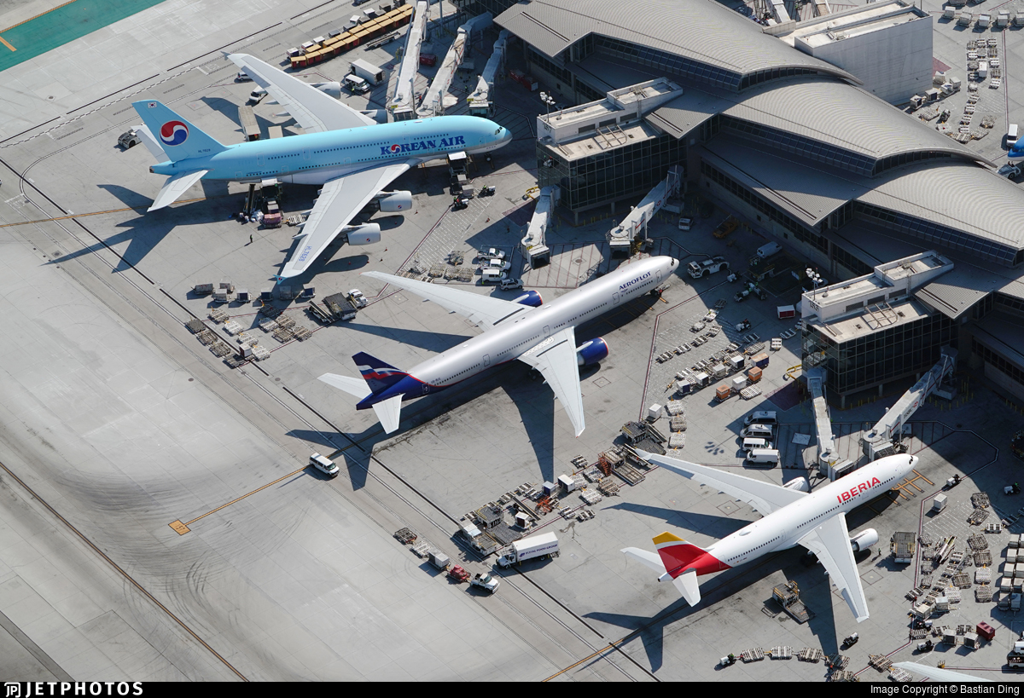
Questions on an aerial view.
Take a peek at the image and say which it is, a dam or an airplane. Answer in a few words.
airplane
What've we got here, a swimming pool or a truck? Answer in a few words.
truck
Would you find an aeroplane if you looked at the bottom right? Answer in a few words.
Yes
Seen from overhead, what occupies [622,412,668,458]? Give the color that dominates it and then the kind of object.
gray work vehicle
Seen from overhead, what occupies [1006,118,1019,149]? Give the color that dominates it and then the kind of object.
white vehicle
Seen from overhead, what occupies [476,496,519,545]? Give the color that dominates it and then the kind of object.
gray work vehicle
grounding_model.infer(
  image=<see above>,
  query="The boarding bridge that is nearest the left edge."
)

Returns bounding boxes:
[390,0,440,119]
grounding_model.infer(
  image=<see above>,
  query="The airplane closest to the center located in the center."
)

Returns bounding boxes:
[320,257,679,435]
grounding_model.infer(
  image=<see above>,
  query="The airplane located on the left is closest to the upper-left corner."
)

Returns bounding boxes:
[127,51,512,283]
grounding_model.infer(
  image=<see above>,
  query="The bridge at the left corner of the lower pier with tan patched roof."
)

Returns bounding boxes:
[803,366,855,475]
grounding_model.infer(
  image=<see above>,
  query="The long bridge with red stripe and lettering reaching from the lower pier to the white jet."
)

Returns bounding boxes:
[861,345,958,456]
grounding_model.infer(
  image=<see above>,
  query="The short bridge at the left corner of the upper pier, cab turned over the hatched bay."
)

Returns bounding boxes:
[519,184,561,263]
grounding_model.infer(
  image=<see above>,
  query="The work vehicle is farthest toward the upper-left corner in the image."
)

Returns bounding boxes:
[113,130,140,149]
